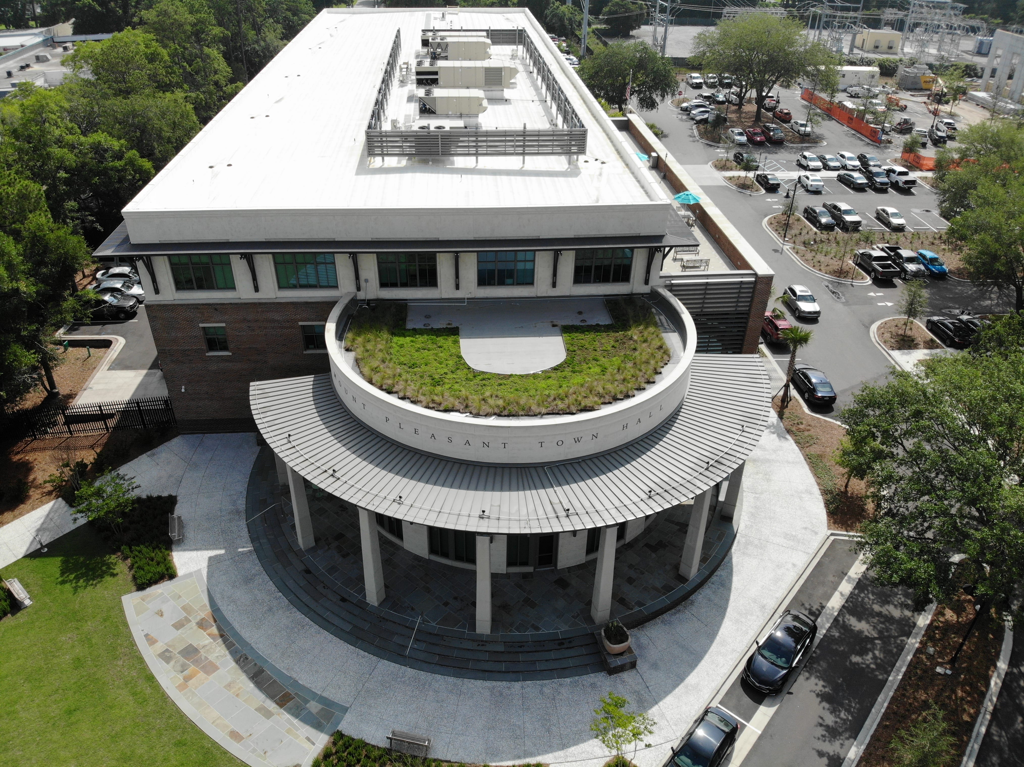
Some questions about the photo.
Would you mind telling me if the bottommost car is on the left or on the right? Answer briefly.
right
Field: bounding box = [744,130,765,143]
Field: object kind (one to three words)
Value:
vehicle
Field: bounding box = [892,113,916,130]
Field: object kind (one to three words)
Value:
work vehicle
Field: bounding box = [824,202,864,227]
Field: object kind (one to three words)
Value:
truck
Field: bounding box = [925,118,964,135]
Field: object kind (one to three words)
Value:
vehicle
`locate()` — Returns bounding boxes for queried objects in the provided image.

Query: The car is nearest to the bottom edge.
[660,705,740,767]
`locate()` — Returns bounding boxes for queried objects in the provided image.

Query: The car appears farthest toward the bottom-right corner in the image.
[743,605,821,692]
